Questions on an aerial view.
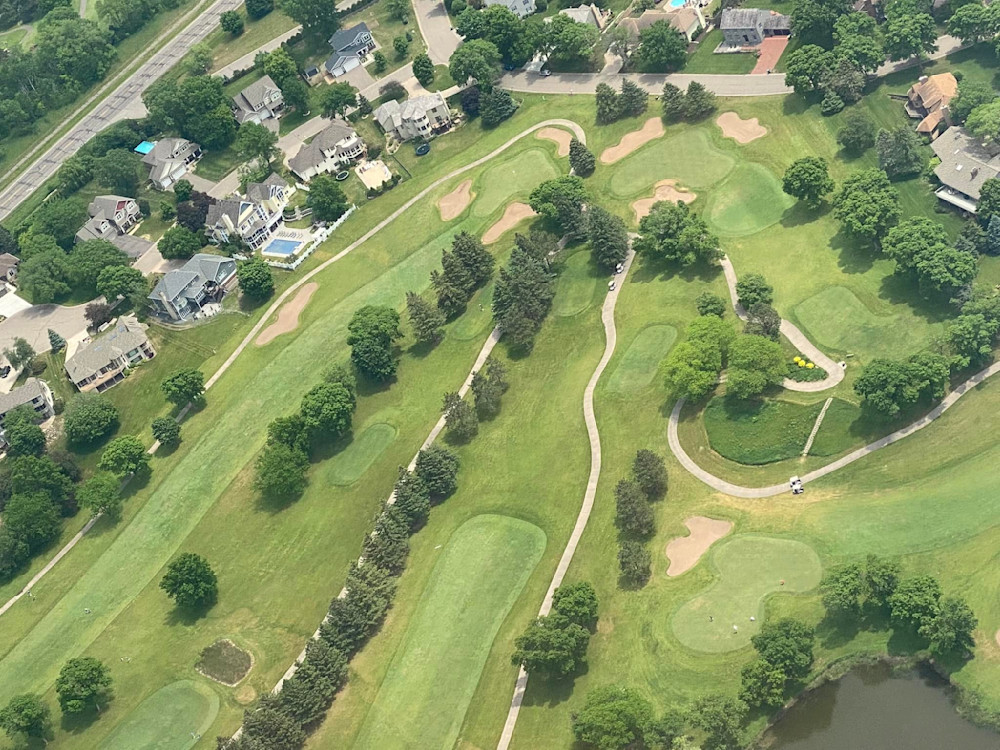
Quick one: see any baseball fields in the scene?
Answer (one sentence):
No, no baseball field is visible in the view.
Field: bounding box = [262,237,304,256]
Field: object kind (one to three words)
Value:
swimming pool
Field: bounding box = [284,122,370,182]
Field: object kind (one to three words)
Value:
house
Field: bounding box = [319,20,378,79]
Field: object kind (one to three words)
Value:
house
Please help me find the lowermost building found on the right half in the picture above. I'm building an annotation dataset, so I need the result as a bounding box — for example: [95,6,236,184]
[925,119,1000,219]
